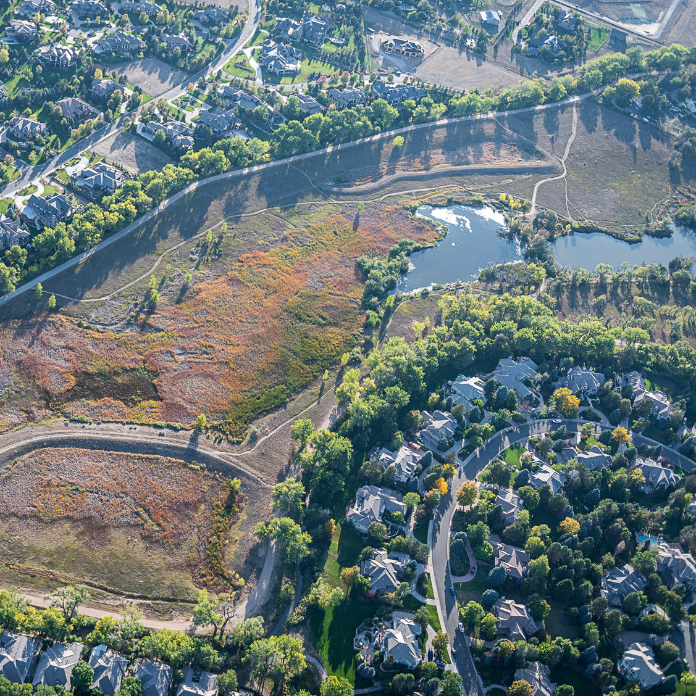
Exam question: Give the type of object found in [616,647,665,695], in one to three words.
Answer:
house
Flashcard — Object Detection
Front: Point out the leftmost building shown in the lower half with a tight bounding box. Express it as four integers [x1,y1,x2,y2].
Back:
[0,639,37,688]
